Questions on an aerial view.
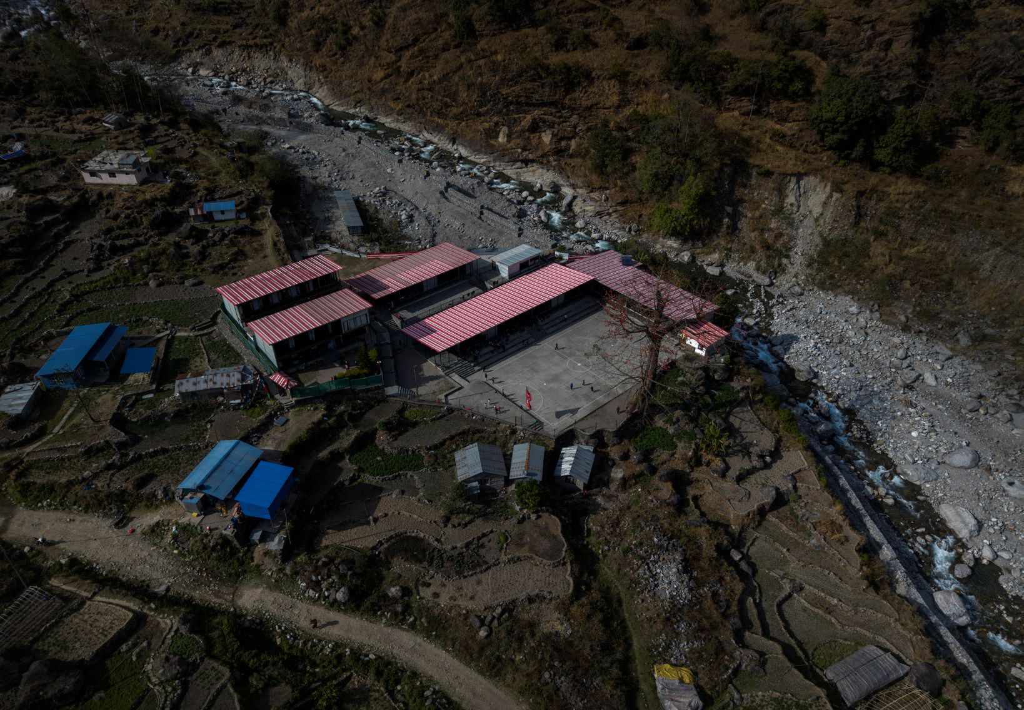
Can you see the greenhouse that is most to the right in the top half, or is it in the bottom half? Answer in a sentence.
The bottom half of the photo is where the greenhouse that is most to the right is.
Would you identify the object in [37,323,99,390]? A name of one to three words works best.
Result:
house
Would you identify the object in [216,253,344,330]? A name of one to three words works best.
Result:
building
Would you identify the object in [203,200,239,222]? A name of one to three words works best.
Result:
house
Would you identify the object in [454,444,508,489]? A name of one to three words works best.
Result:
shed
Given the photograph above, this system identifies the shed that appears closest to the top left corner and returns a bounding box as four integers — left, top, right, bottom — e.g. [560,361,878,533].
[102,114,132,132]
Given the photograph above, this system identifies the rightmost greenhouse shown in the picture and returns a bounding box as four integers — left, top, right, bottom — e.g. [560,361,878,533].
[824,646,910,710]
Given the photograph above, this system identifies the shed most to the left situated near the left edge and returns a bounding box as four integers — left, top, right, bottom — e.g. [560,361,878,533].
[0,383,47,428]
